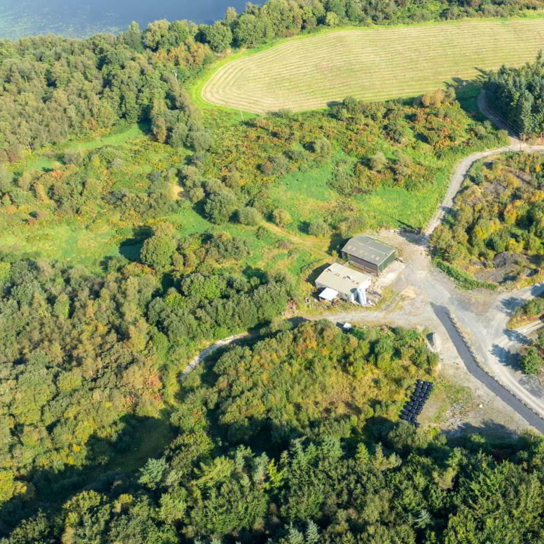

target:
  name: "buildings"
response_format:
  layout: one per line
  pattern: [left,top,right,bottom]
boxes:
[340,234,395,274]
[315,262,370,305]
